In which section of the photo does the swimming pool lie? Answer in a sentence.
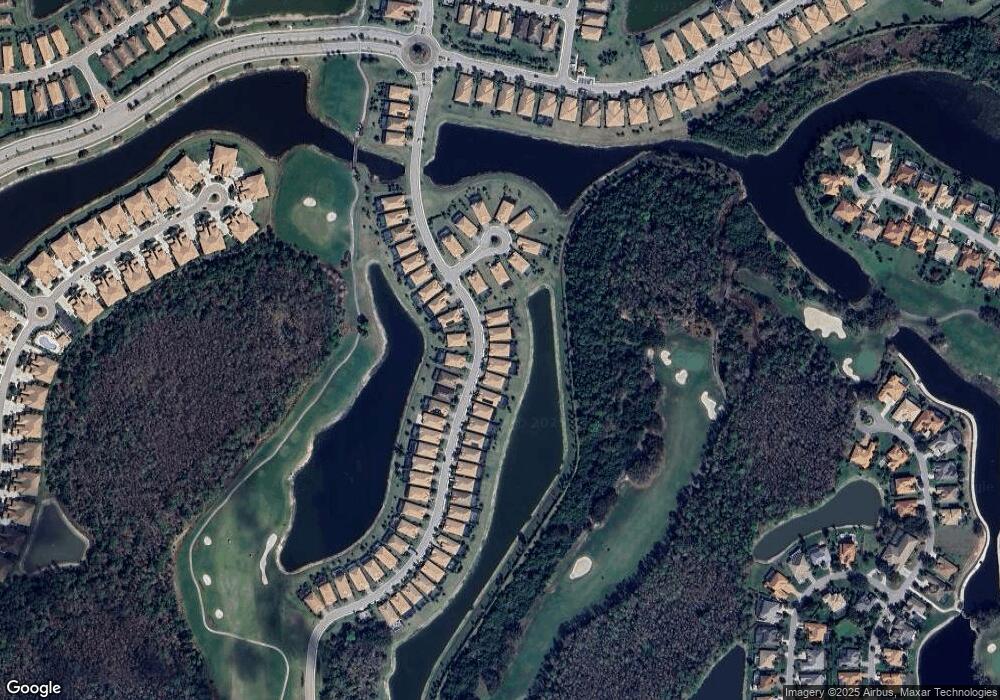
The swimming pool sits in the left section of the image.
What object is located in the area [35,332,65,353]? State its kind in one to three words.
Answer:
swimming pool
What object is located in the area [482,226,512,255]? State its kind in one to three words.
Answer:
roundabout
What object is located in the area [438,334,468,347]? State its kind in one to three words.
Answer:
house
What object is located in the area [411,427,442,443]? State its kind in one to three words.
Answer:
house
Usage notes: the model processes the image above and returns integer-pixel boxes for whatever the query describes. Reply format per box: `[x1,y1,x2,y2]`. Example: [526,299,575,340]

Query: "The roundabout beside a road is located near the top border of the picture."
[400,32,439,72]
